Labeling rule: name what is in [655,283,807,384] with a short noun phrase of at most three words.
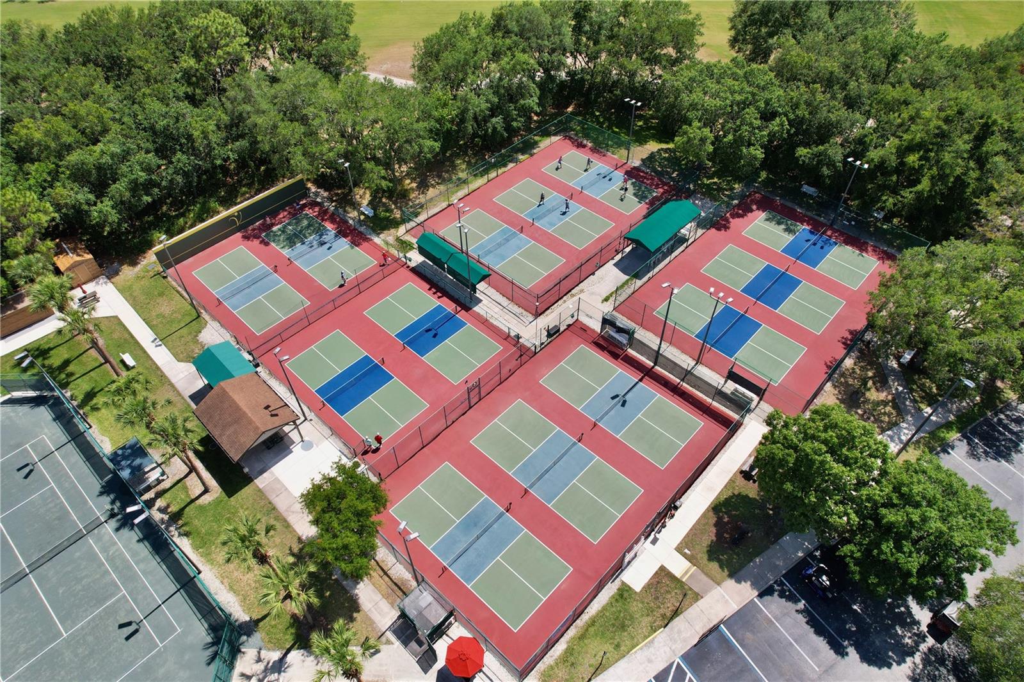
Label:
sports court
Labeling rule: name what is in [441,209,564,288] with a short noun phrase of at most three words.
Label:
sports court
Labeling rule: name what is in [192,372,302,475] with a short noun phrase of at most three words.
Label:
building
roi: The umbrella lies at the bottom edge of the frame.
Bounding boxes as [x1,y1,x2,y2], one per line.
[444,637,487,682]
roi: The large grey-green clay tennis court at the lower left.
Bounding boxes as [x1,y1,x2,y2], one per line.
[0,391,248,682]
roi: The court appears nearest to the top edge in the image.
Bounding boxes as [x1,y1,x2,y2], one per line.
[543,151,658,213]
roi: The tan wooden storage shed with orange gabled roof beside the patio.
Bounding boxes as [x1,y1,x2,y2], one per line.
[48,242,102,286]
